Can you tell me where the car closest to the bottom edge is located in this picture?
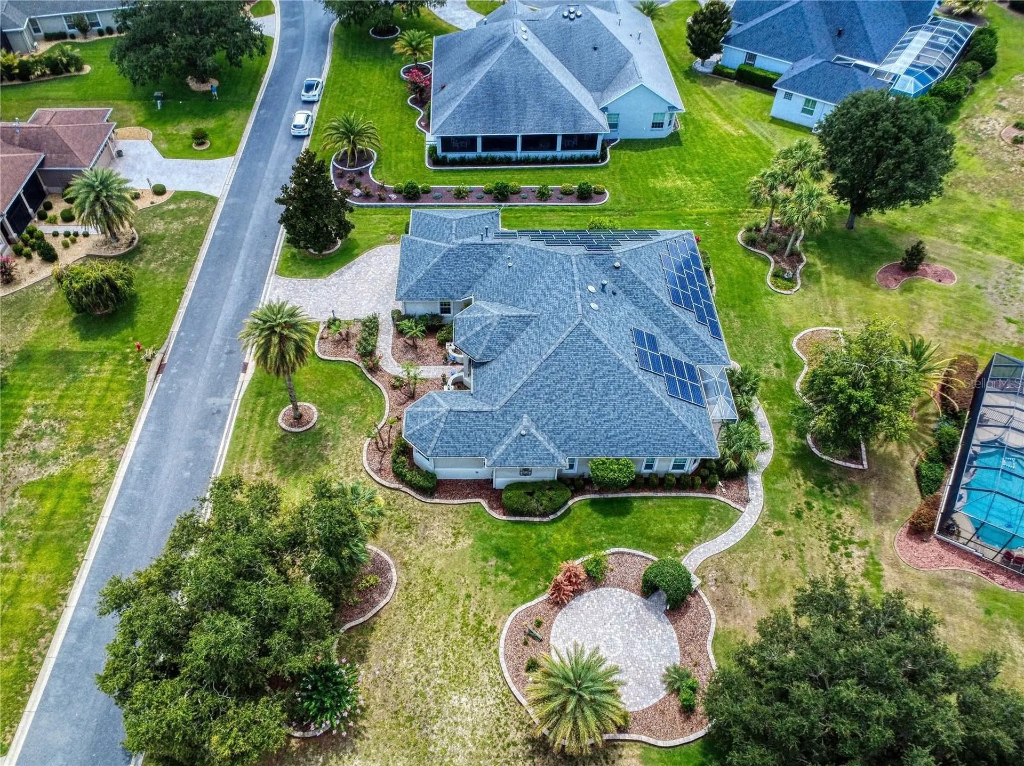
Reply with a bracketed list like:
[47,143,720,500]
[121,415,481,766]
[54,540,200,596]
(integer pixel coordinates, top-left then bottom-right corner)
[289,109,313,136]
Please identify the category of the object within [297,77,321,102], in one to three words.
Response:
car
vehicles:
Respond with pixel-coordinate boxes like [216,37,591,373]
[297,77,321,102]
[289,109,313,136]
